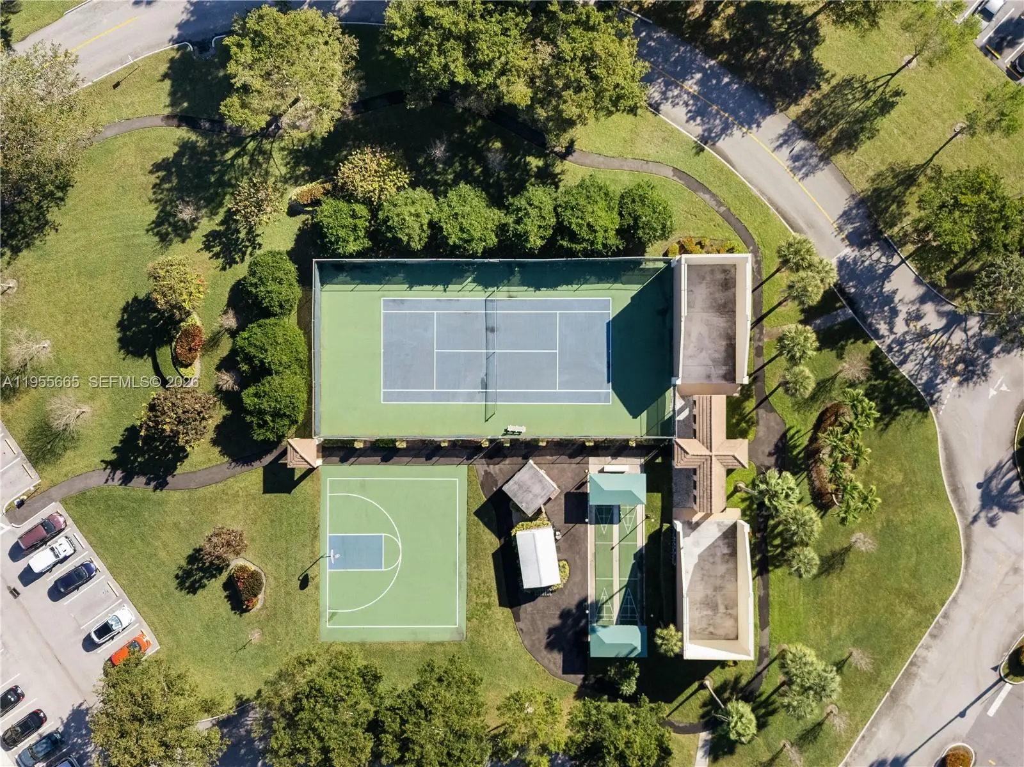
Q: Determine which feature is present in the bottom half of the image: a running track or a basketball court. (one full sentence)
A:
Visible in the bottom half of the image is a basketball court.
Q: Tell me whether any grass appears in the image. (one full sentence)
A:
Yes, the picture does contain grass.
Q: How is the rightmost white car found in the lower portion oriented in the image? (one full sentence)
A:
In this picture, the rightmost white car found in the lower portion lies at an angle.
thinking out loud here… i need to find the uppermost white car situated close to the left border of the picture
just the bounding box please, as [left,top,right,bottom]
[22,537,74,577]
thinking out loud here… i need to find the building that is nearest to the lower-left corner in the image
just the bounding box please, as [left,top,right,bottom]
[289,438,325,468]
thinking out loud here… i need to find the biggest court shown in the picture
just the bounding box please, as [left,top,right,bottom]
[321,263,672,436]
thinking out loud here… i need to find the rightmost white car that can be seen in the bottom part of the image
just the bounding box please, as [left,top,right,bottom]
[87,608,133,647]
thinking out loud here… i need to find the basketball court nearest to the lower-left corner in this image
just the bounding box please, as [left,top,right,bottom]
[321,466,467,641]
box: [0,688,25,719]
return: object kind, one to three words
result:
car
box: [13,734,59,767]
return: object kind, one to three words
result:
car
